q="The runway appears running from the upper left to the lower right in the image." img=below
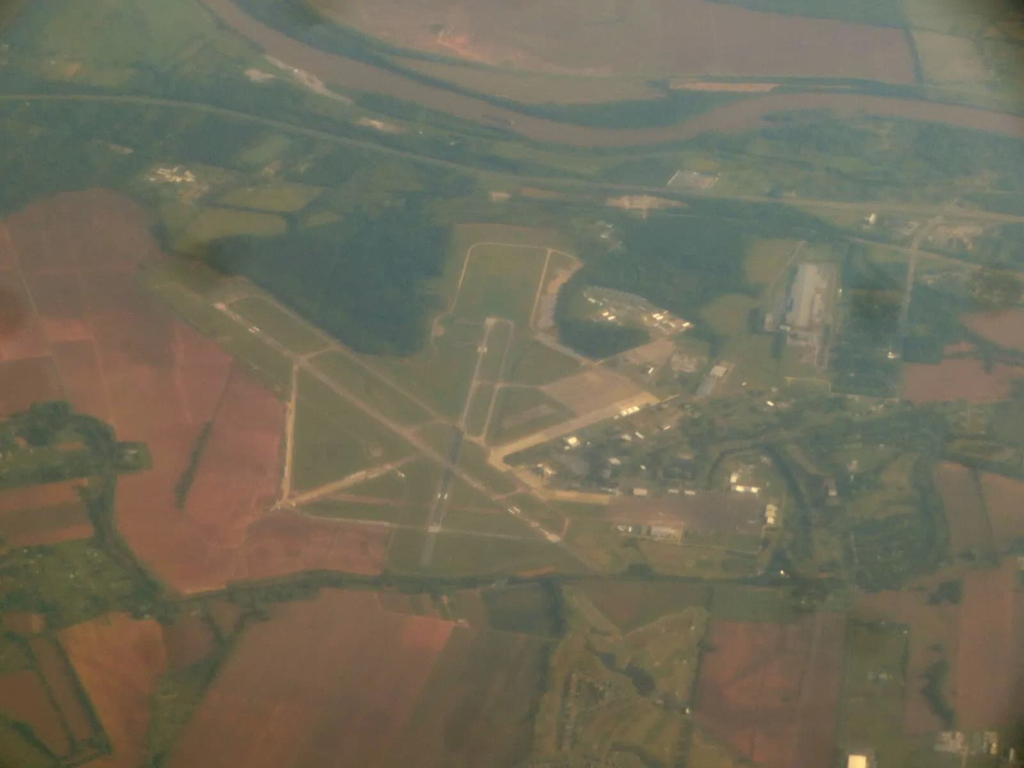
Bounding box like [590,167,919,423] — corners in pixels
[220,305,563,540]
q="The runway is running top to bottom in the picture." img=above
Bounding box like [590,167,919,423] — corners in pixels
[429,319,494,531]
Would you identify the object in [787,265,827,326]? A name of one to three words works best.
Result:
building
